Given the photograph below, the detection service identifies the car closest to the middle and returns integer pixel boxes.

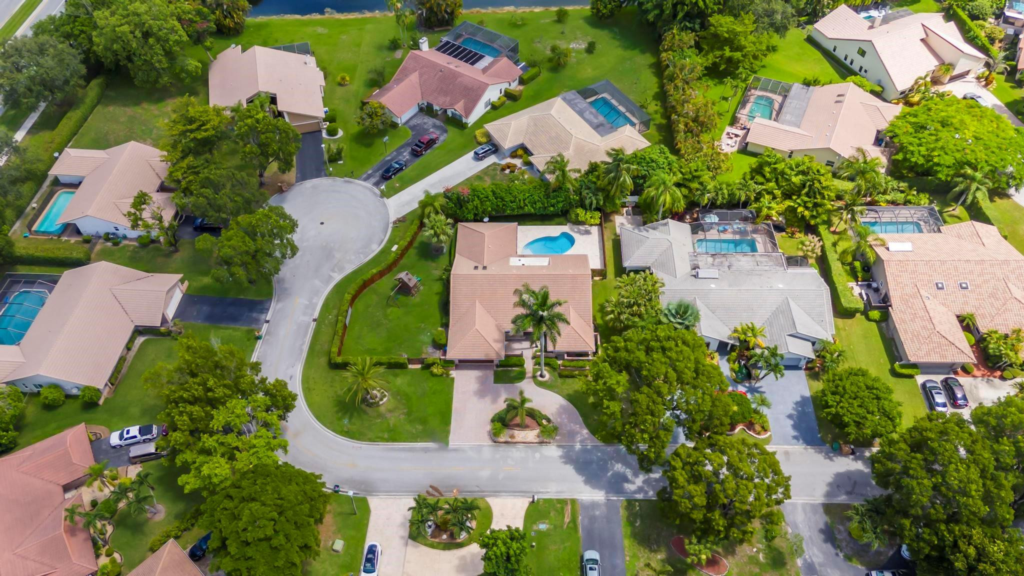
[472,144,498,160]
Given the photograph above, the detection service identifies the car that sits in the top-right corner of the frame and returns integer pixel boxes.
[962,93,990,108]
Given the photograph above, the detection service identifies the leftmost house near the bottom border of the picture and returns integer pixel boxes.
[0,422,99,576]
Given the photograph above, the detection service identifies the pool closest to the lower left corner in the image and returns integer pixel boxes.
[0,288,51,345]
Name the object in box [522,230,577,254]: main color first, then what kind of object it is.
blue swimming pool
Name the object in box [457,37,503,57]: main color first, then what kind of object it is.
blue swimming pool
